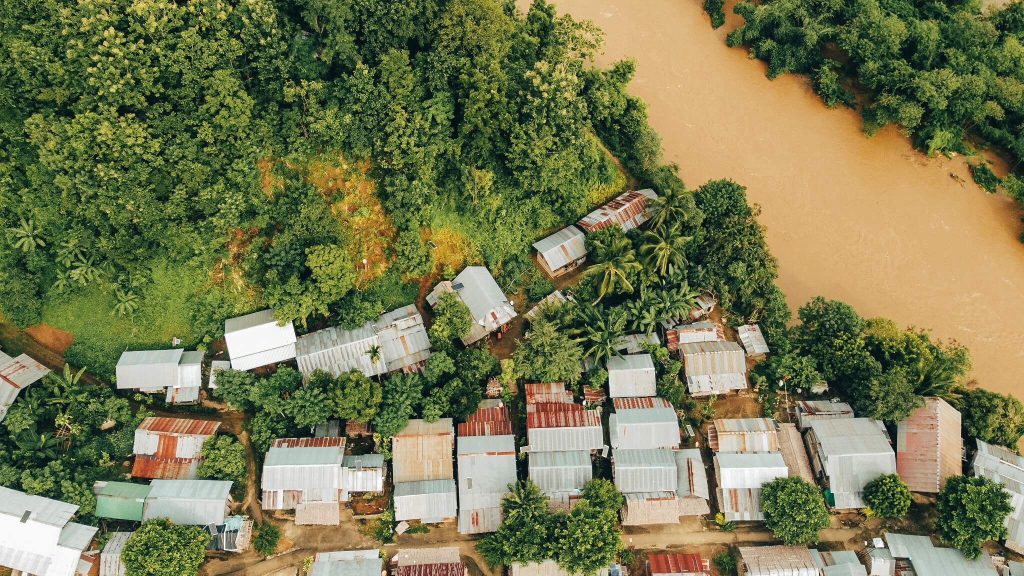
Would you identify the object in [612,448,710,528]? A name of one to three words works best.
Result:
house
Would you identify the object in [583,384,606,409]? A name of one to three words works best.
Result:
shed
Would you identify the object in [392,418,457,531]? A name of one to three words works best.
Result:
house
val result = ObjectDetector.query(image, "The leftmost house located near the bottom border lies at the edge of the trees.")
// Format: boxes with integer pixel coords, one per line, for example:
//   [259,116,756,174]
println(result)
[0,487,106,576]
